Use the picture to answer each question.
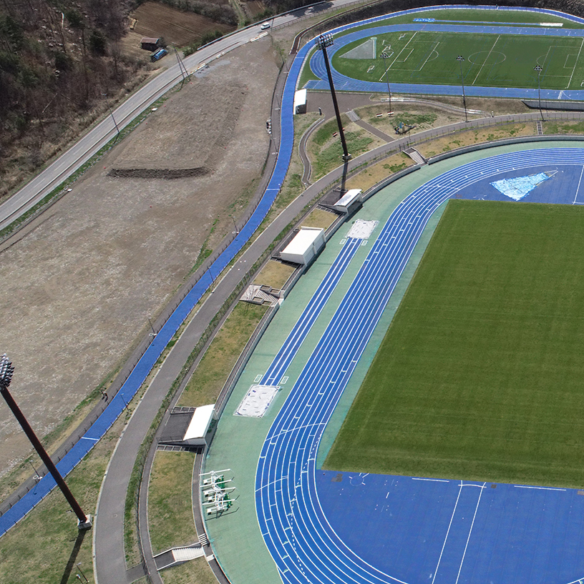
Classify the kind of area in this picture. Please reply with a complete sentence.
This image shows a sports ground.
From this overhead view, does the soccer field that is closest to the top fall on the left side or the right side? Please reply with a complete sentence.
It is on the right.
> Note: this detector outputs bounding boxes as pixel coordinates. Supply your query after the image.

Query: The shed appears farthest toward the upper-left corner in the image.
[134,35,163,50]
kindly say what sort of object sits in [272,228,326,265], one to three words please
building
